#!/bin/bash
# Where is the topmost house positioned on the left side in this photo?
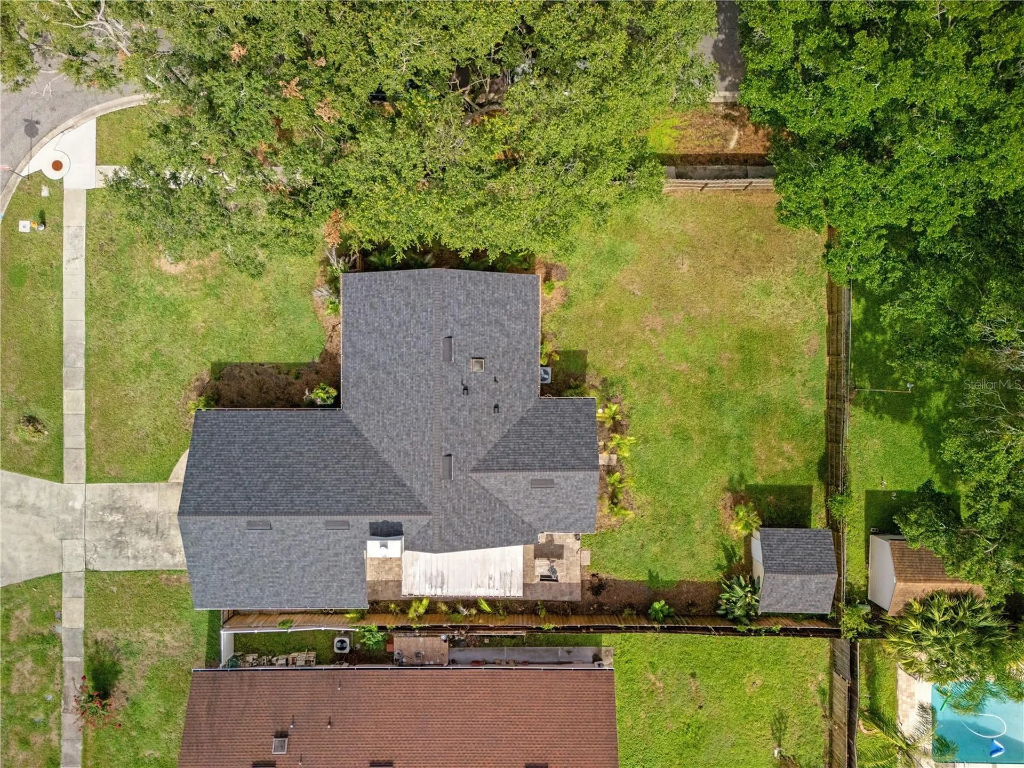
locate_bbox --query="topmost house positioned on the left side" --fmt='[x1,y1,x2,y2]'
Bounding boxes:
[176,267,600,610]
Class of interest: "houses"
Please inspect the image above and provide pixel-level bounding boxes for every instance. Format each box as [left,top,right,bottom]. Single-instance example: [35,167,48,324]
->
[176,267,600,610]
[177,665,619,768]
